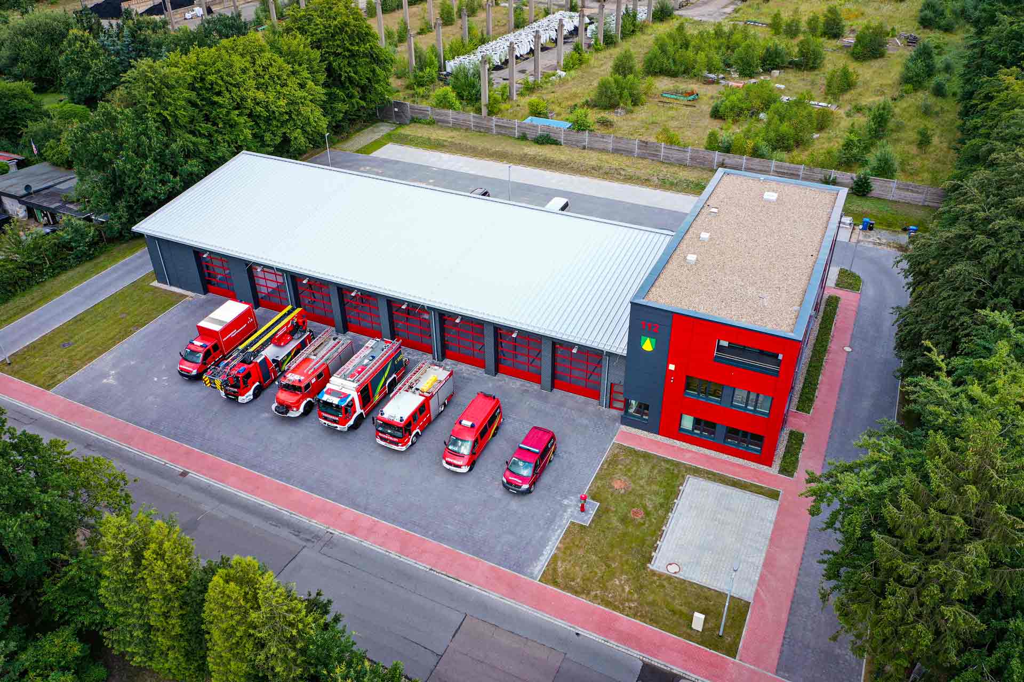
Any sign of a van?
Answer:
Yes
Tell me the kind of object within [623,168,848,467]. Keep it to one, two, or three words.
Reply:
building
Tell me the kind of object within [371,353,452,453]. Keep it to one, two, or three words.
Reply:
truck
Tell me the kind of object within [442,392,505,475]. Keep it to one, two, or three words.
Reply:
van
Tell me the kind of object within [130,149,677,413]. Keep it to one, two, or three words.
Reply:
building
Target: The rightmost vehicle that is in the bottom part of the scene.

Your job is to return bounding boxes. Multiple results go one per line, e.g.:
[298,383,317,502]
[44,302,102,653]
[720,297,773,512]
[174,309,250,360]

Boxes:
[501,422,559,495]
